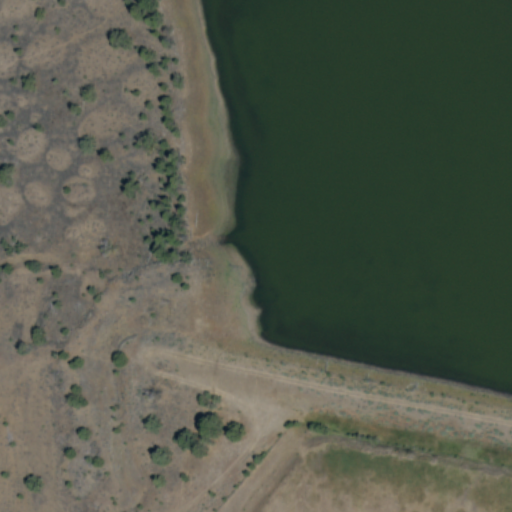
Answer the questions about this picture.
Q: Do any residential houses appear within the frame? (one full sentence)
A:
No, I can see no residential house in this picture.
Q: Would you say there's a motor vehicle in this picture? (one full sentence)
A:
No, the photo shows no motor vehicle.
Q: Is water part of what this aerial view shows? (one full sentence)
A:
Yes, there is water in the image.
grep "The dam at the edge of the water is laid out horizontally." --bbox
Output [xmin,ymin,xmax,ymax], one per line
[138,336,512,446]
